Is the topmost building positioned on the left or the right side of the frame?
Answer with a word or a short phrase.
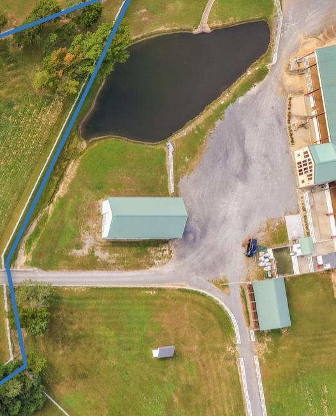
right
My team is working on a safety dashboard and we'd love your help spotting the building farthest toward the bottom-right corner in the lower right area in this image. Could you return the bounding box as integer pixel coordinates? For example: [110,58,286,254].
[246,277,291,331]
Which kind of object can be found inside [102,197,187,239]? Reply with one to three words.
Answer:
barn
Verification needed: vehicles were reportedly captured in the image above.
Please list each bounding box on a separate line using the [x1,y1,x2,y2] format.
[247,237,259,257]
